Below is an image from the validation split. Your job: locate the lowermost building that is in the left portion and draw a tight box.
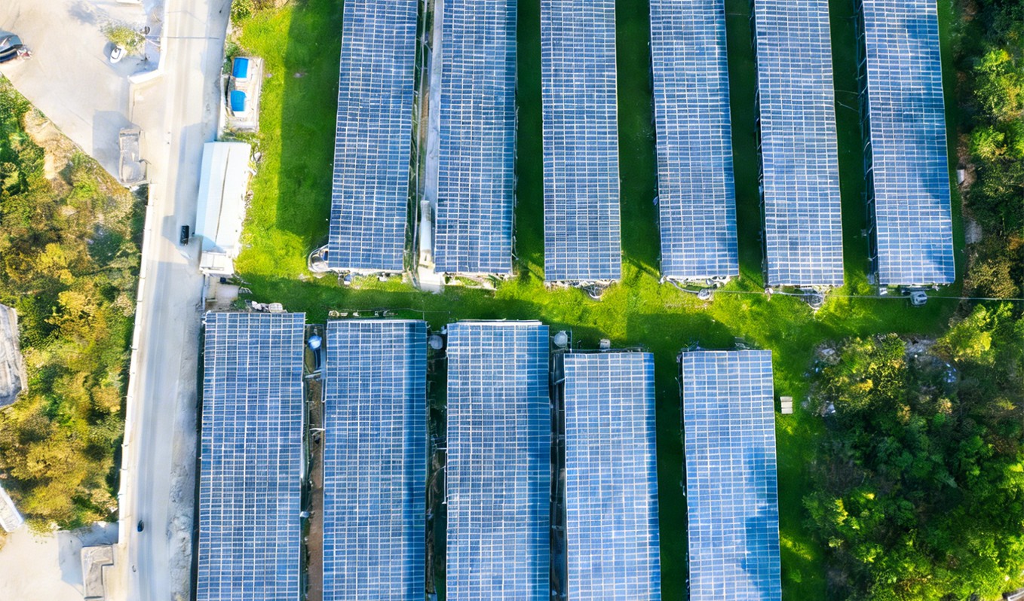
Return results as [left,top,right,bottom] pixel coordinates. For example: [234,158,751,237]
[80,543,122,601]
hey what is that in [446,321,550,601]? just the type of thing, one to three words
shed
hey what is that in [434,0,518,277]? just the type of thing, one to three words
shed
